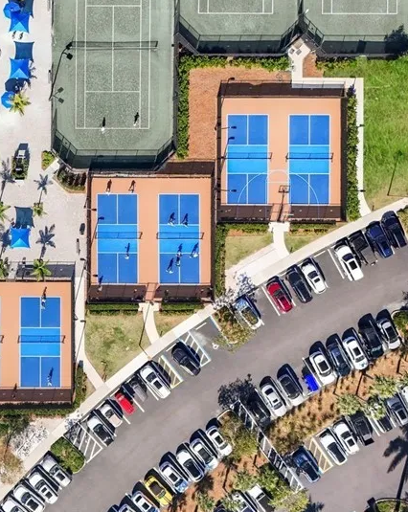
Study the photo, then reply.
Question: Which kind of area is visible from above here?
sports ground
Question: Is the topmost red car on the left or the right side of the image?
right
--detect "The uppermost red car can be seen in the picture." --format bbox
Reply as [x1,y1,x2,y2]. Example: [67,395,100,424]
[268,281,295,314]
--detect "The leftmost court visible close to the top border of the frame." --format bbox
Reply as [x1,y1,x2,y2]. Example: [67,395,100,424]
[53,0,176,169]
